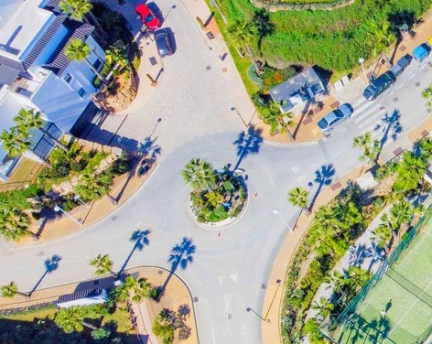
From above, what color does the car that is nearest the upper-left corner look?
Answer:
red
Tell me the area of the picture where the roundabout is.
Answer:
center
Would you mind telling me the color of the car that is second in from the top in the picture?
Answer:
blue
